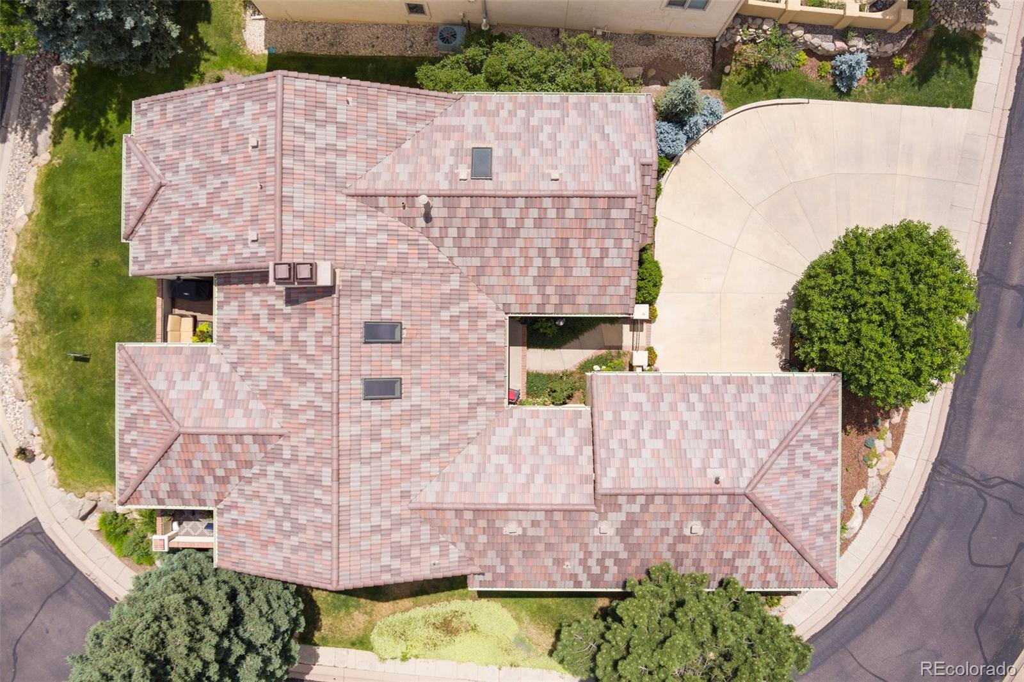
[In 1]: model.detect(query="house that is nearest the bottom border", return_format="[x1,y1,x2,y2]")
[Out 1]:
[111,67,845,594]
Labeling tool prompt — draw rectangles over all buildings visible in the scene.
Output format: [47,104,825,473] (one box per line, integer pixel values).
[111,67,845,594]
[252,0,742,39]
